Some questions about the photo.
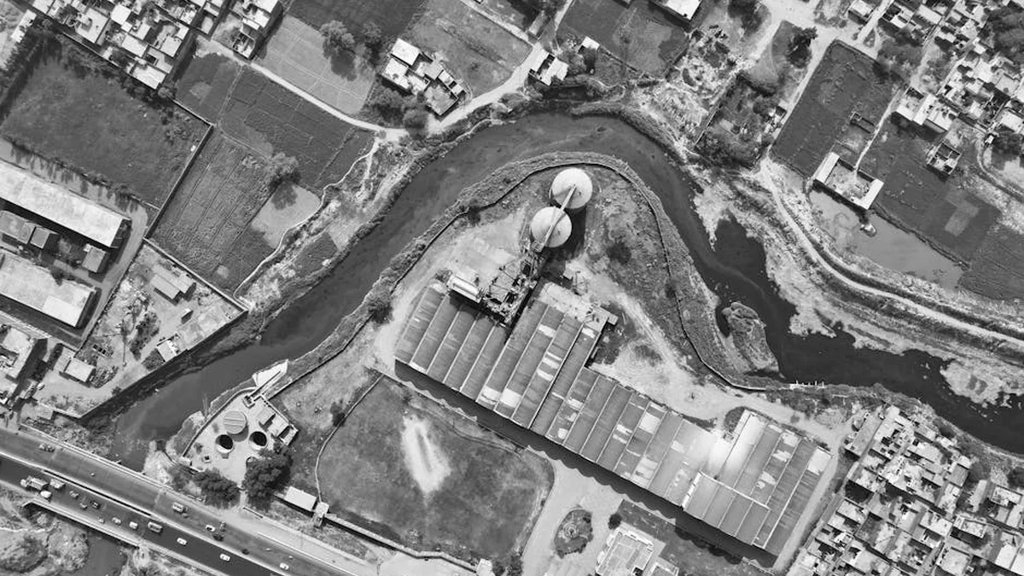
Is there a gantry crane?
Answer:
No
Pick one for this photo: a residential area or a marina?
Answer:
residential area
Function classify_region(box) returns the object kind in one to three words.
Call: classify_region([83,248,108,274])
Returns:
shed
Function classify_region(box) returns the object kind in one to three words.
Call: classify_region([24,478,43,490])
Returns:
vehicle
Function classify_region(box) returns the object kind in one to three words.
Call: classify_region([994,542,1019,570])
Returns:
house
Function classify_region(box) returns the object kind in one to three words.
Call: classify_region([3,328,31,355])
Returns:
building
